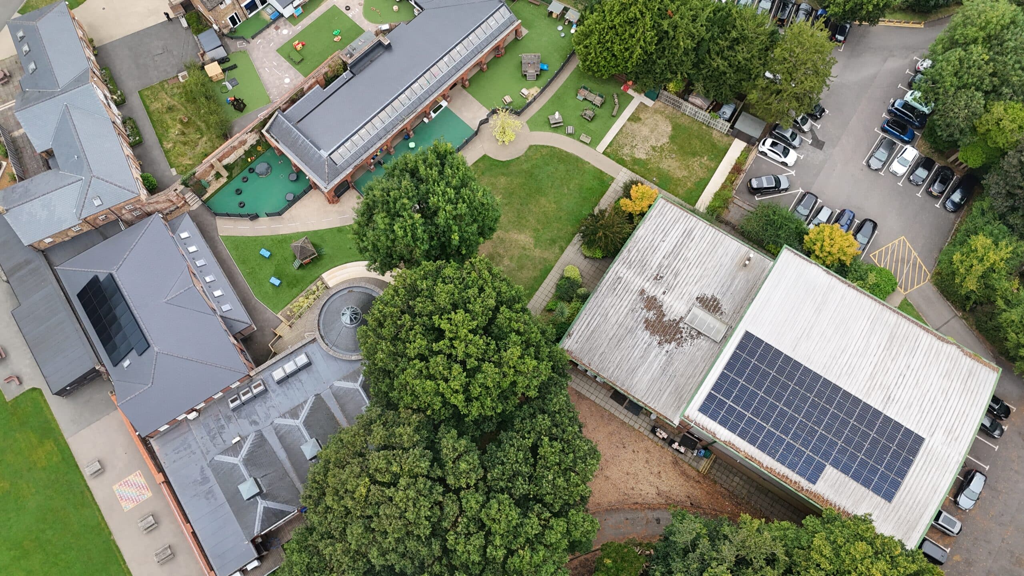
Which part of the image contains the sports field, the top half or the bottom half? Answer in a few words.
bottom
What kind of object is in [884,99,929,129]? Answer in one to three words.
car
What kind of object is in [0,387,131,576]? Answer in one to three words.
sports field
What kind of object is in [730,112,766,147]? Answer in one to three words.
shed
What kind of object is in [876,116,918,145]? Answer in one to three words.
car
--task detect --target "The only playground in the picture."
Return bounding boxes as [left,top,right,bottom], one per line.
[197,0,343,116]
